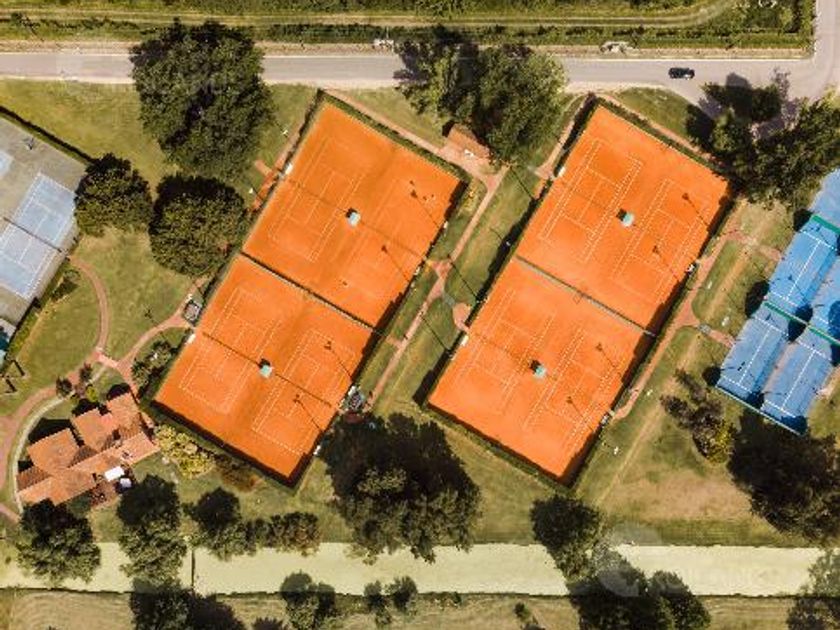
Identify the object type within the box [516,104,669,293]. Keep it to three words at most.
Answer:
tennis court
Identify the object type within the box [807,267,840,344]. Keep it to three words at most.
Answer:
sports court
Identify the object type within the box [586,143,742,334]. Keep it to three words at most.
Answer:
tennis court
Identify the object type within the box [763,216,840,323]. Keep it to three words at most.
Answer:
sports court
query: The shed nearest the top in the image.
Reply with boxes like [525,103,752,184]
[446,123,491,162]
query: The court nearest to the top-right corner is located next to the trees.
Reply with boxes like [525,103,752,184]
[808,161,840,233]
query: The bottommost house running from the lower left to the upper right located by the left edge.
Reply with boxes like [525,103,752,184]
[14,387,165,514]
